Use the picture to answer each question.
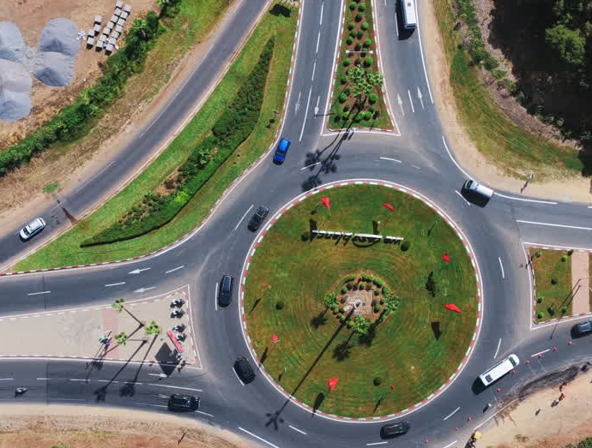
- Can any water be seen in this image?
No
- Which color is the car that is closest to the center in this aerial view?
black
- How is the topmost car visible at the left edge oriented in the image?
at an angle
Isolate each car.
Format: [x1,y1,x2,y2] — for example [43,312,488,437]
[19,218,48,240]
[248,206,268,233]
[380,421,409,437]
[169,397,199,409]
[572,319,592,337]
[235,356,254,384]
[273,137,291,165]
[220,274,232,307]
